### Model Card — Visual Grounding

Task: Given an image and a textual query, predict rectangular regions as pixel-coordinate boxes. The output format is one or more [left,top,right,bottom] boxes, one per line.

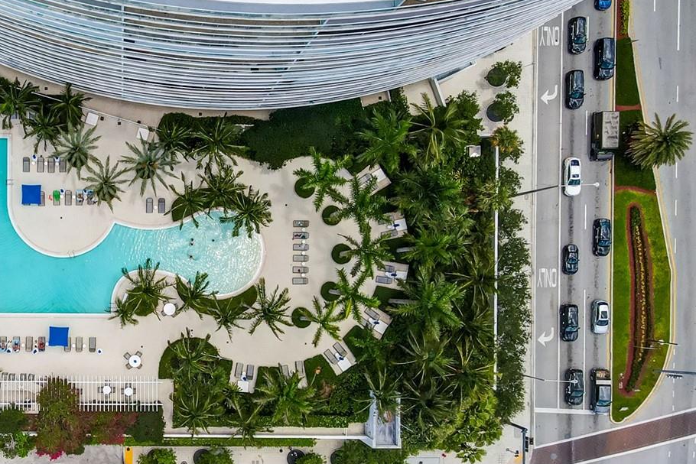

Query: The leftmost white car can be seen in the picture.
[561,158,580,197]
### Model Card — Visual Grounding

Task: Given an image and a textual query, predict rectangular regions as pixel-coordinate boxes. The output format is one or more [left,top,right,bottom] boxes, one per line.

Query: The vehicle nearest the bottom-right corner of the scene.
[588,370,612,415]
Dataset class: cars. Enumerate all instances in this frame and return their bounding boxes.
[557,304,580,342]
[591,216,612,256]
[563,68,587,110]
[563,367,586,407]
[560,244,580,276]
[564,13,588,55]
[592,36,617,80]
[592,0,613,14]
[588,300,610,334]
[561,158,580,197]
